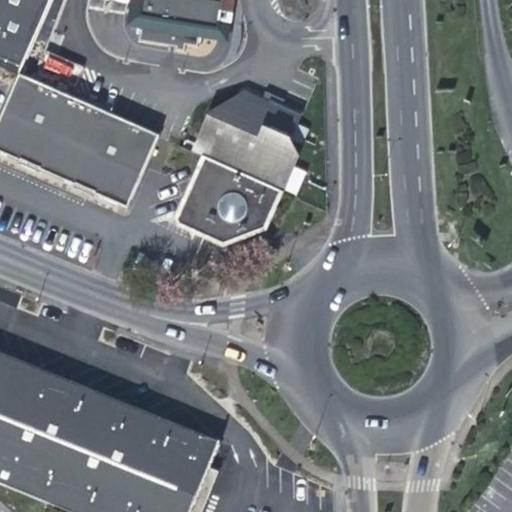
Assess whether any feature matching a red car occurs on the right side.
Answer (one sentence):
No, I see no red car on the right side.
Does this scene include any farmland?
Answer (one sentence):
No, there's no farmland in this view.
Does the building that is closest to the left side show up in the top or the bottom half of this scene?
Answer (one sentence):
It is in the top half that the building that is closest to the left side appears.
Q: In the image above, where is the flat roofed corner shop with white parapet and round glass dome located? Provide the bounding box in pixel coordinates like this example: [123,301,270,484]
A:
[177,156,284,246]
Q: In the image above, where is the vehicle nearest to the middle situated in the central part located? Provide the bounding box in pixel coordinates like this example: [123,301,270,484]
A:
[266,286,292,302]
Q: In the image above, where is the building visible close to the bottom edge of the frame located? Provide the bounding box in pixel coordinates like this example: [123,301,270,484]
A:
[0,350,222,512]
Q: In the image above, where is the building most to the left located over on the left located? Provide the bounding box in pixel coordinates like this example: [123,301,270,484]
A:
[0,0,53,75]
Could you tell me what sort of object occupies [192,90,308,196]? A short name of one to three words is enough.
building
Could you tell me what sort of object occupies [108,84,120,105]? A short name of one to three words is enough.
vehicle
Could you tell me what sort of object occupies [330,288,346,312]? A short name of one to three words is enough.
car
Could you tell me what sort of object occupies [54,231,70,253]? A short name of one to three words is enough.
car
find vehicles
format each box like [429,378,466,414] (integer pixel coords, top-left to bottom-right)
[338,16,349,40]
[266,286,292,302]
[67,236,82,260]
[254,360,277,377]
[165,326,186,340]
[196,306,216,315]
[162,252,175,274]
[10,212,24,234]
[54,231,70,253]
[243,504,262,512]
[33,222,46,242]
[296,480,306,500]
[418,456,428,476]
[168,166,192,182]
[42,307,62,319]
[43,228,58,251]
[108,84,120,105]
[330,288,346,312]
[262,504,272,512]
[322,246,338,270]
[224,347,246,360]
[92,76,105,98]
[78,240,94,264]
[116,338,138,352]
[366,418,388,428]
[154,202,177,215]
[0,208,14,232]
[20,217,36,240]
